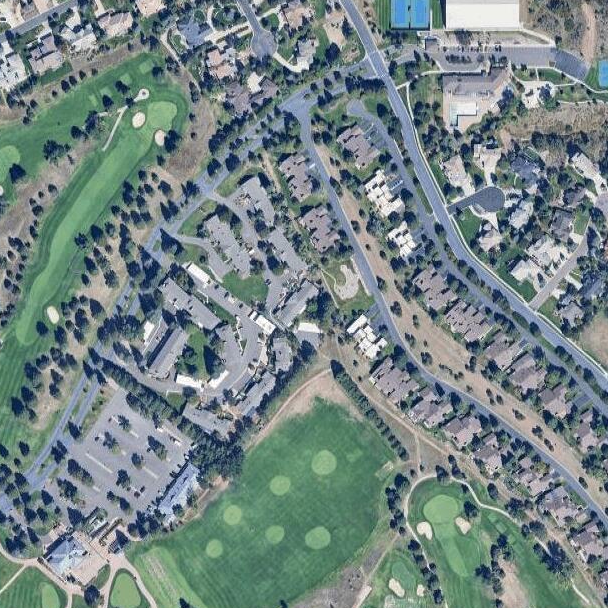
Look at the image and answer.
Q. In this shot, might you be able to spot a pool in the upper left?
No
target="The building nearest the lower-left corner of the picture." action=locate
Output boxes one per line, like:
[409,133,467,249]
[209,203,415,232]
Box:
[39,535,88,582]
